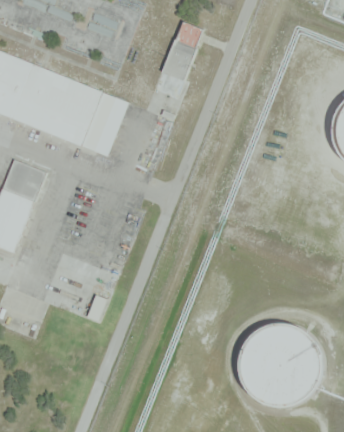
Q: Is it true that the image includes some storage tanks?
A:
Yes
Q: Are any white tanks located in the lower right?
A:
Yes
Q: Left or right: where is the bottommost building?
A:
left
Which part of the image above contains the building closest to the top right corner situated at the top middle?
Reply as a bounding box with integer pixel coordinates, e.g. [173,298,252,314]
[162,22,203,80]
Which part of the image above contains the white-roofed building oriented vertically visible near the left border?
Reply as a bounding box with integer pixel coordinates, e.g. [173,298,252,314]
[0,160,48,253]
